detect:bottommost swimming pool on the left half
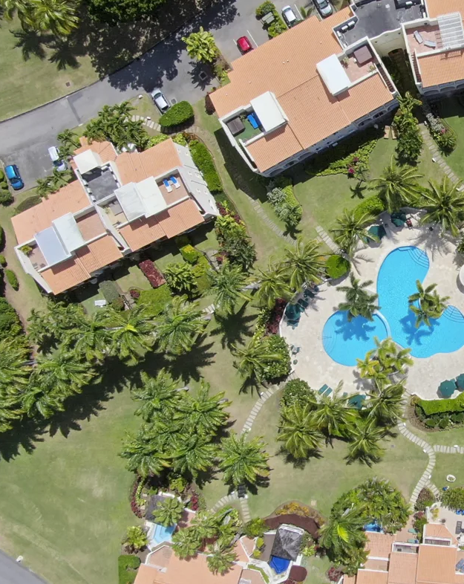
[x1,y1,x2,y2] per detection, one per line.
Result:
[154,524,175,545]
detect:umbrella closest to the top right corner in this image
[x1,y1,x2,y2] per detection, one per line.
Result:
[391,211,406,228]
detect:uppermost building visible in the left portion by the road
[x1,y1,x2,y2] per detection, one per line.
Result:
[12,137,234,298]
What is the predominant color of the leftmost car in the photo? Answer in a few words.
blue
